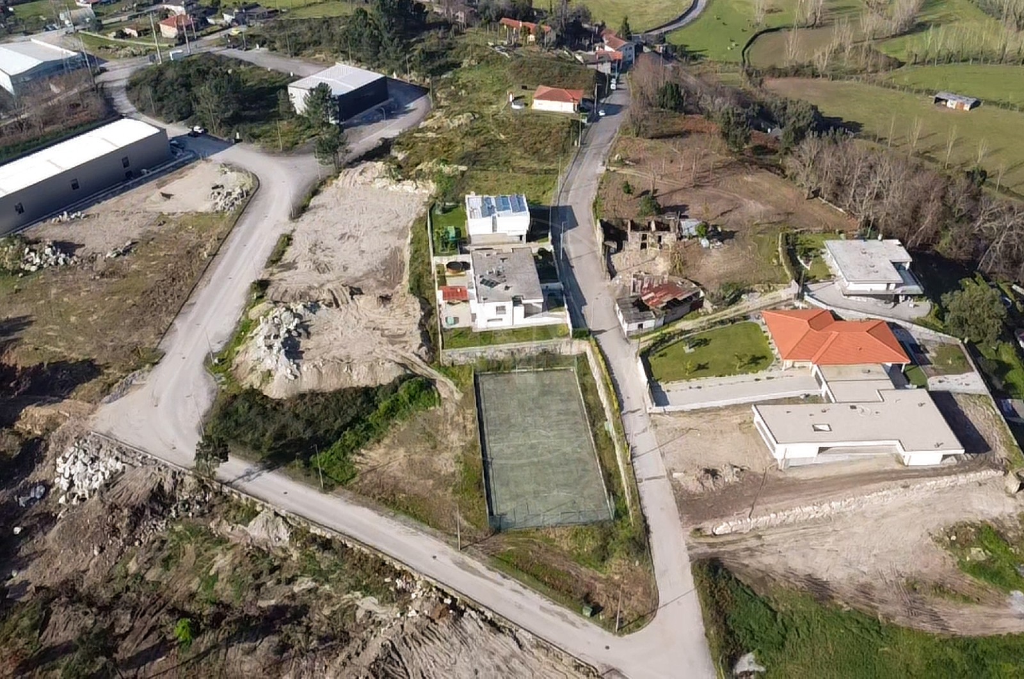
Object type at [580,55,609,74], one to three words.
house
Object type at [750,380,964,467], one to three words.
house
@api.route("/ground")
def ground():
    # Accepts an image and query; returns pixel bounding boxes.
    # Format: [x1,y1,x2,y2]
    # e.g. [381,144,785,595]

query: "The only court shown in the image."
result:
[475,367,612,529]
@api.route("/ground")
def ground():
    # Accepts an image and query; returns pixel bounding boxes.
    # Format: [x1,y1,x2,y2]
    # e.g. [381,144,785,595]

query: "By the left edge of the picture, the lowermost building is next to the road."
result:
[0,117,170,238]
